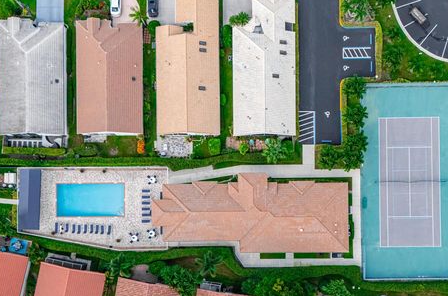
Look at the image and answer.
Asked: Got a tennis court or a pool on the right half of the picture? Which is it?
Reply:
tennis court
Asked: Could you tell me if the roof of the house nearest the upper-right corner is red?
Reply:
No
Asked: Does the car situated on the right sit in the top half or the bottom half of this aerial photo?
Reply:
top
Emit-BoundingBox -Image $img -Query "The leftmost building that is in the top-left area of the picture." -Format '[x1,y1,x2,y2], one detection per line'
[0,16,70,135]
